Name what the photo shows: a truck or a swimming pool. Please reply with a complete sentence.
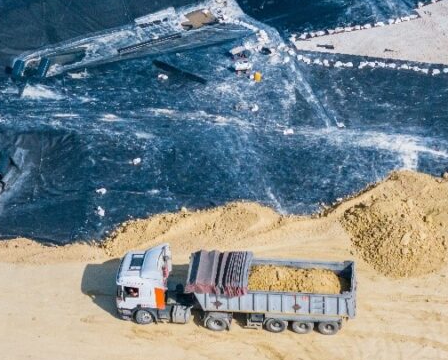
The image shows a truck.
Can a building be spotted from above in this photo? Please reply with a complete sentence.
No, no building can be seen from above.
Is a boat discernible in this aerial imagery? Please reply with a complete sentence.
No, the frame has no boat in it.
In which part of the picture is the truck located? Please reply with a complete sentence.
The truck appears toward the bottom of the photo.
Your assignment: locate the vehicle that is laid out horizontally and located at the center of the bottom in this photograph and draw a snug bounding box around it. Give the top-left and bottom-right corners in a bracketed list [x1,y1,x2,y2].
[116,242,360,334]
